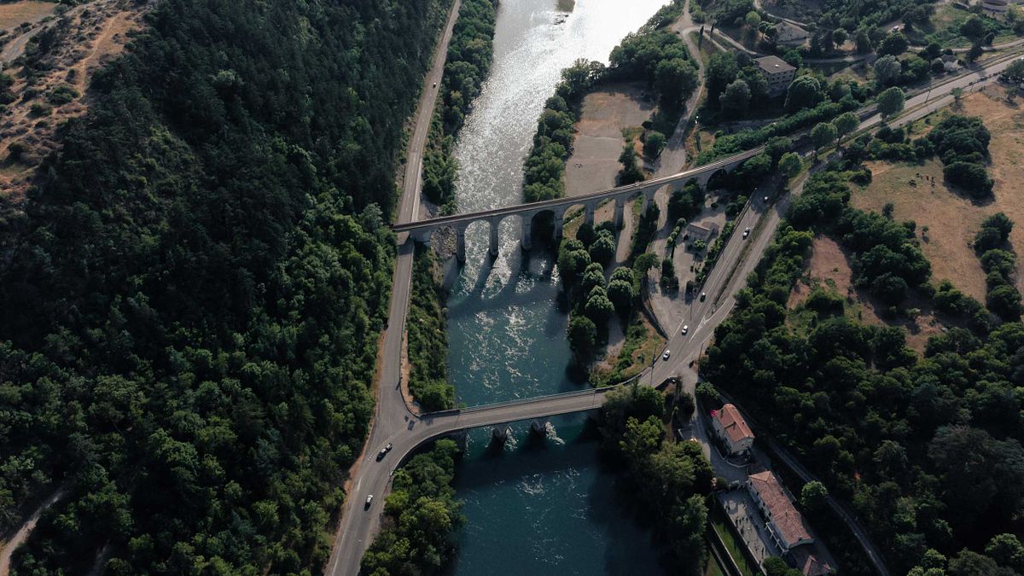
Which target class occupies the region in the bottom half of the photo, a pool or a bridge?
bridge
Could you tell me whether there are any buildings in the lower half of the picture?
Yes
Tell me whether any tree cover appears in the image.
Yes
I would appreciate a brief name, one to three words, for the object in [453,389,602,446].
bridge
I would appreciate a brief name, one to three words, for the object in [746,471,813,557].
house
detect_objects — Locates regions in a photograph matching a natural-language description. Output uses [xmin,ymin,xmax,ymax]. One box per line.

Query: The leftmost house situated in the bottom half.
[714,406,756,452]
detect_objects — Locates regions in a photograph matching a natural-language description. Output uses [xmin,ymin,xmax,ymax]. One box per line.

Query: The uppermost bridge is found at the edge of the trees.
[392,145,767,266]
